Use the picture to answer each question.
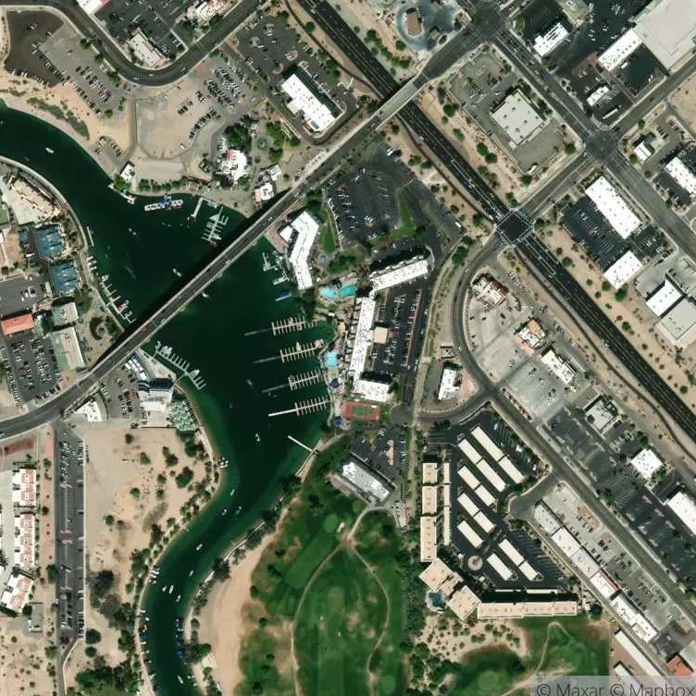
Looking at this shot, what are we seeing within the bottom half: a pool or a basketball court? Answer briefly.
pool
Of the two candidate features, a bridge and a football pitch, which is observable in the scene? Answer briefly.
bridge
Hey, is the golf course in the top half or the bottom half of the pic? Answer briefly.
bottom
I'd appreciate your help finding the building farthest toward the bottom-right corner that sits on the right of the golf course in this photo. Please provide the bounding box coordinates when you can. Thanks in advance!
[667,656,694,682]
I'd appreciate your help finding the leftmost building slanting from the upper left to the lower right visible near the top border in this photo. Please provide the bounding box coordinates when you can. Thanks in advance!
[129,31,164,67]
